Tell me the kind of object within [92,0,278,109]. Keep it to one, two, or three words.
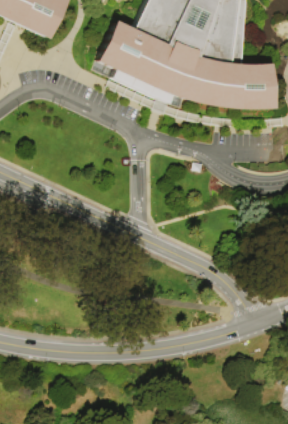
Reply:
building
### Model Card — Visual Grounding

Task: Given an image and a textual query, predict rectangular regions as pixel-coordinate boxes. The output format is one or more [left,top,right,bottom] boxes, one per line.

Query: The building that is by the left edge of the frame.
[0,0,68,38]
